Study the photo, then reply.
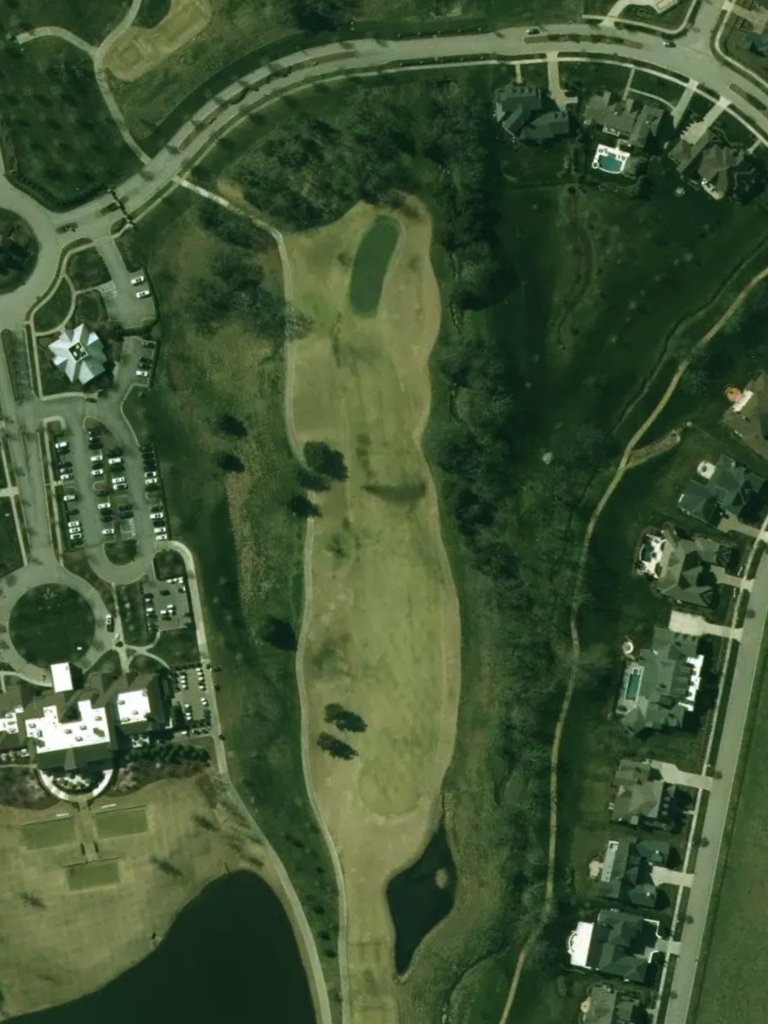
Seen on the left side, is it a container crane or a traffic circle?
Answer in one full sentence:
What appears on the left side is a traffic circle.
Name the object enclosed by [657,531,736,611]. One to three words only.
house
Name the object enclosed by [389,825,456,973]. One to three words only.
pond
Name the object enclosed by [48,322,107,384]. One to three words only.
building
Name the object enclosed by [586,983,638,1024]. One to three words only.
house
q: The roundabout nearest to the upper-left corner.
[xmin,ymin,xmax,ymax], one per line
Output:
[0,147,62,328]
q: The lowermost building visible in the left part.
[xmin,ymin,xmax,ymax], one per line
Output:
[0,663,170,770]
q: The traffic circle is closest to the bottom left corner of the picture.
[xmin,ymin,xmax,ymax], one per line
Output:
[0,562,113,690]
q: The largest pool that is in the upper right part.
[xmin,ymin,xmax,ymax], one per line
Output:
[597,154,624,173]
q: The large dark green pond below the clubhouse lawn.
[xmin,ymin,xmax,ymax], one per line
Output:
[2,871,312,1024]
